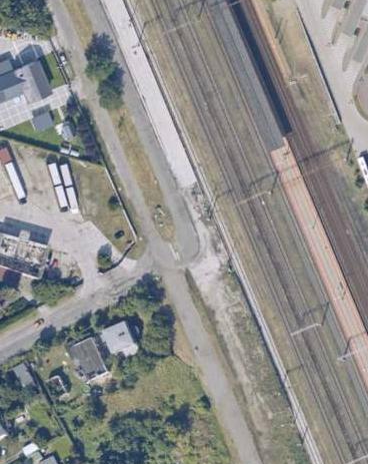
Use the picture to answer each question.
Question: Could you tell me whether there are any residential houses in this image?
Yes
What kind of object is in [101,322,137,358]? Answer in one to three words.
house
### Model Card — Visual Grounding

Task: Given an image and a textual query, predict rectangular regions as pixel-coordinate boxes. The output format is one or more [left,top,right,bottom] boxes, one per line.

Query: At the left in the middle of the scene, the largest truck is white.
[5,161,29,206]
